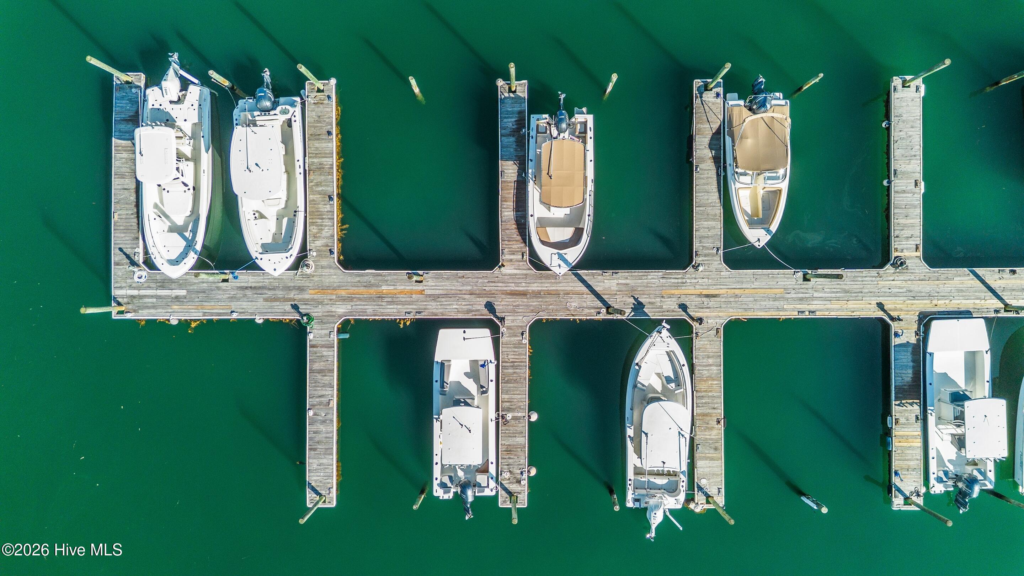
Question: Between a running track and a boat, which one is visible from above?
boat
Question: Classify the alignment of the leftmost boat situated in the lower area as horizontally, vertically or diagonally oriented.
vertically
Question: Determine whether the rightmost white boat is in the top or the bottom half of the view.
bottom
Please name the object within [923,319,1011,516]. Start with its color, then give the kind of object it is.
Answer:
white boat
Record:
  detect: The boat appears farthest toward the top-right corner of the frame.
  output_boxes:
[722,72,791,249]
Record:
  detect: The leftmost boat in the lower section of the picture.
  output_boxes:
[433,328,496,521]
